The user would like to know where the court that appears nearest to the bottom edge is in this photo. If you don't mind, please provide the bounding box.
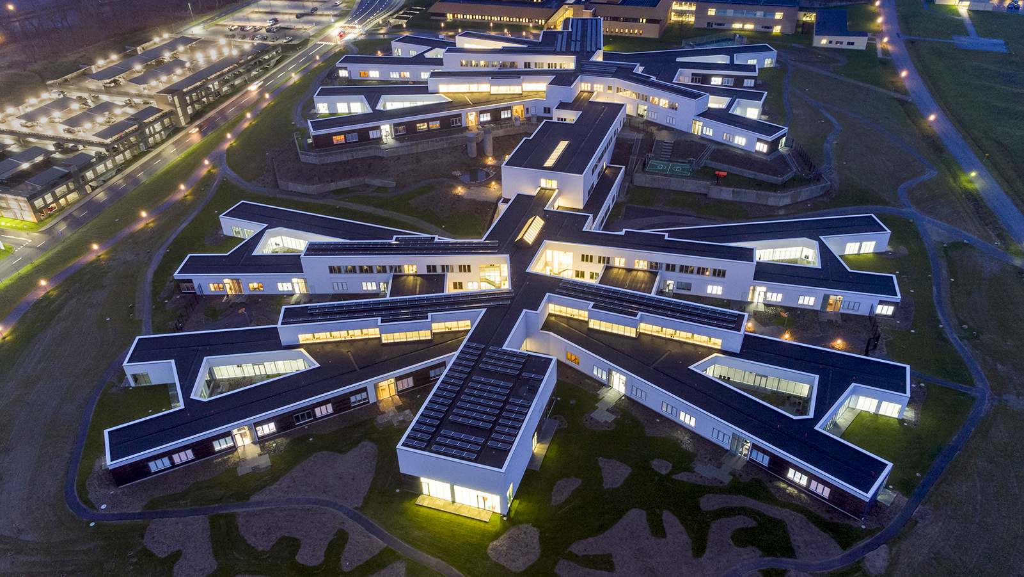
[646,160,694,175]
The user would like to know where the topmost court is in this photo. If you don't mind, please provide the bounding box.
[683,30,747,49]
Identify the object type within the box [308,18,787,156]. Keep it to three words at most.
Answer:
building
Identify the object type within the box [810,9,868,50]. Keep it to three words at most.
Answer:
house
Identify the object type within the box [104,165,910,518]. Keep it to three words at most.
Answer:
building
